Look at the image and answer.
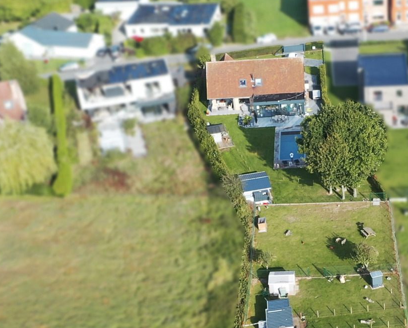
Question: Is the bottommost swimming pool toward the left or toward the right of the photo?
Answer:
right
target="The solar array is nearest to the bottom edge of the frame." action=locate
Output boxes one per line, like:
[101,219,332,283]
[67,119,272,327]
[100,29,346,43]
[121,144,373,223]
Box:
[107,51,170,84]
